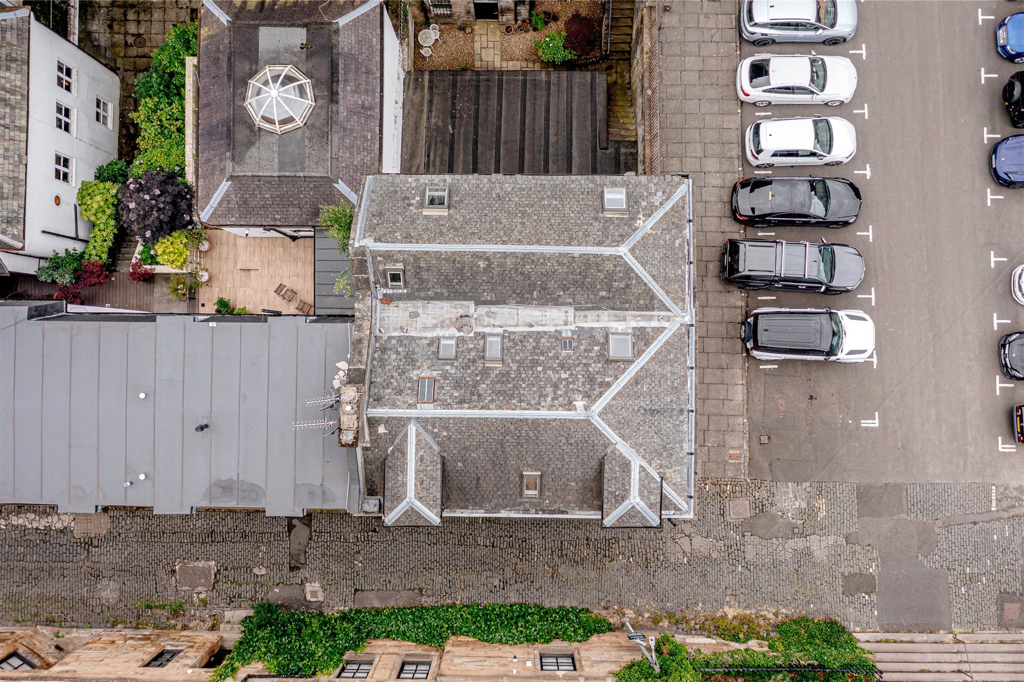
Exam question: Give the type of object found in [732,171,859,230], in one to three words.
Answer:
car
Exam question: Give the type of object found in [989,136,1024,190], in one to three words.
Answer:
car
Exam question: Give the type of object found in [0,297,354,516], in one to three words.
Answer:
building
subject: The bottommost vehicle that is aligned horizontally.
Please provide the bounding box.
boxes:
[741,302,877,366]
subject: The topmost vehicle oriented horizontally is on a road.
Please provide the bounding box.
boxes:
[739,0,857,50]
